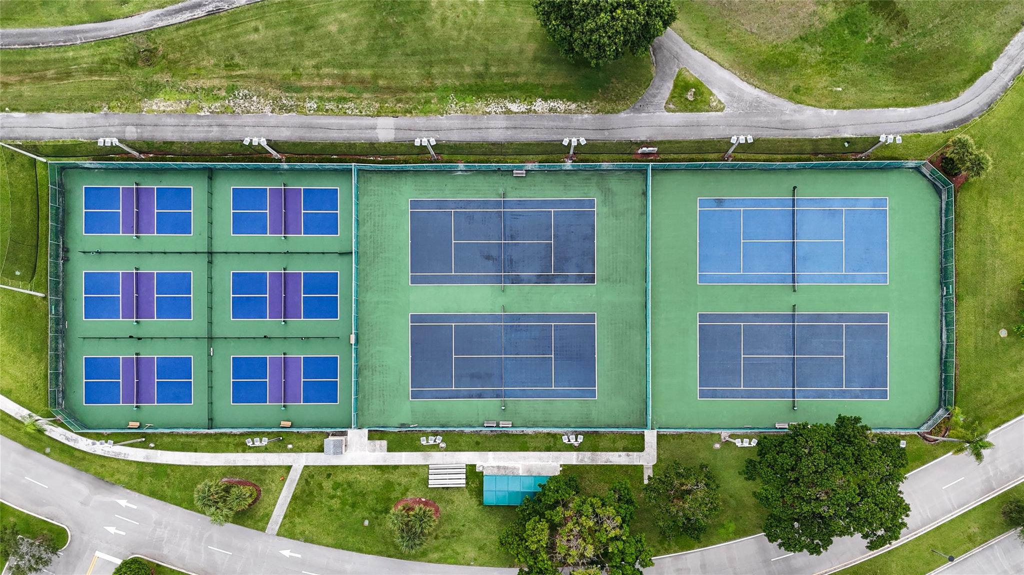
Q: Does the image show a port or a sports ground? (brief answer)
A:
sports ground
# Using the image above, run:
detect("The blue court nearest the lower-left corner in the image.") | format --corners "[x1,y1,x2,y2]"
[83,356,193,405]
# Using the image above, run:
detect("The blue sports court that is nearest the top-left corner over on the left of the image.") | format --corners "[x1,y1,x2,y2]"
[83,186,193,235]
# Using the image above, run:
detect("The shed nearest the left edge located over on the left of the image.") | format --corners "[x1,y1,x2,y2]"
[324,436,350,456]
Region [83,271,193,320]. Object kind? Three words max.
sports court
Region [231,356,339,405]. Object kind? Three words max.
sports court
